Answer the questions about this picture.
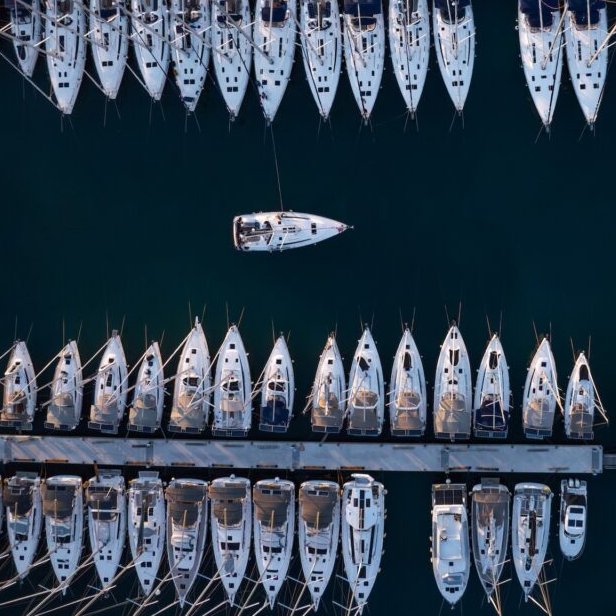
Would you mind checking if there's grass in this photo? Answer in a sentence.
No, the picture contains no grass.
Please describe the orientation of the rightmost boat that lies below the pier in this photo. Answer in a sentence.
I'd say the rightmost boat that lies below the pier is aligned vertically in the picture.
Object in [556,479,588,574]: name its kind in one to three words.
boat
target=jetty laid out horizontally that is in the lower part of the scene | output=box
[0,433,603,472]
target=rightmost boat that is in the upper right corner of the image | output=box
[562,0,616,152]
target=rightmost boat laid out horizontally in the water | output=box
[231,211,352,252]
